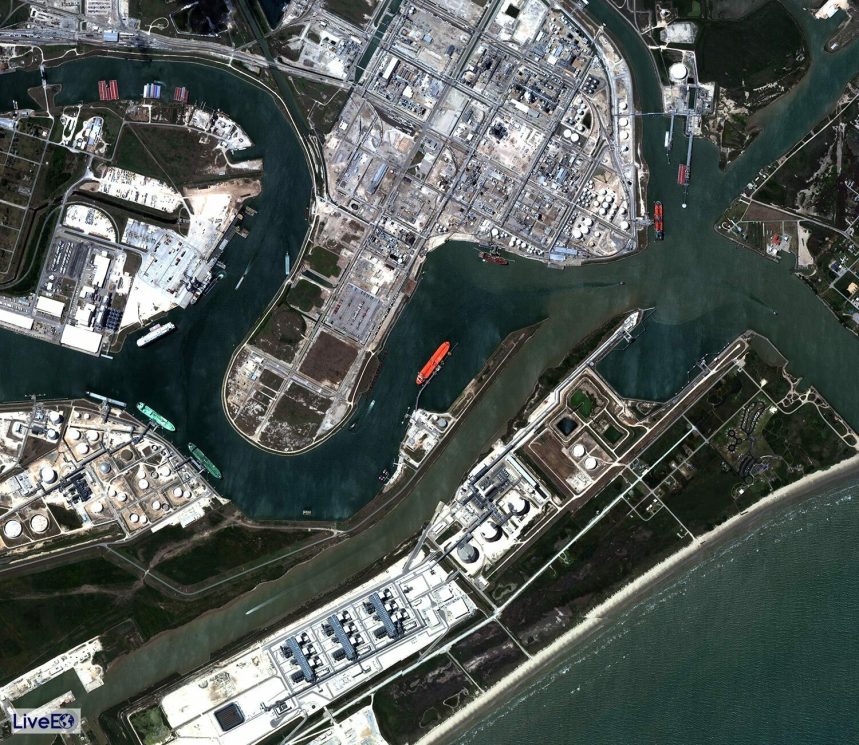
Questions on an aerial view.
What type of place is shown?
port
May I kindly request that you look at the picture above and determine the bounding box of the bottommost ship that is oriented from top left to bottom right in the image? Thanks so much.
[186,442,221,479]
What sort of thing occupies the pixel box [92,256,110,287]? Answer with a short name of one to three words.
building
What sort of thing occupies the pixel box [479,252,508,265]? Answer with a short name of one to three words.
ship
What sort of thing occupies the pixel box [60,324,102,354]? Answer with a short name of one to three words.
building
